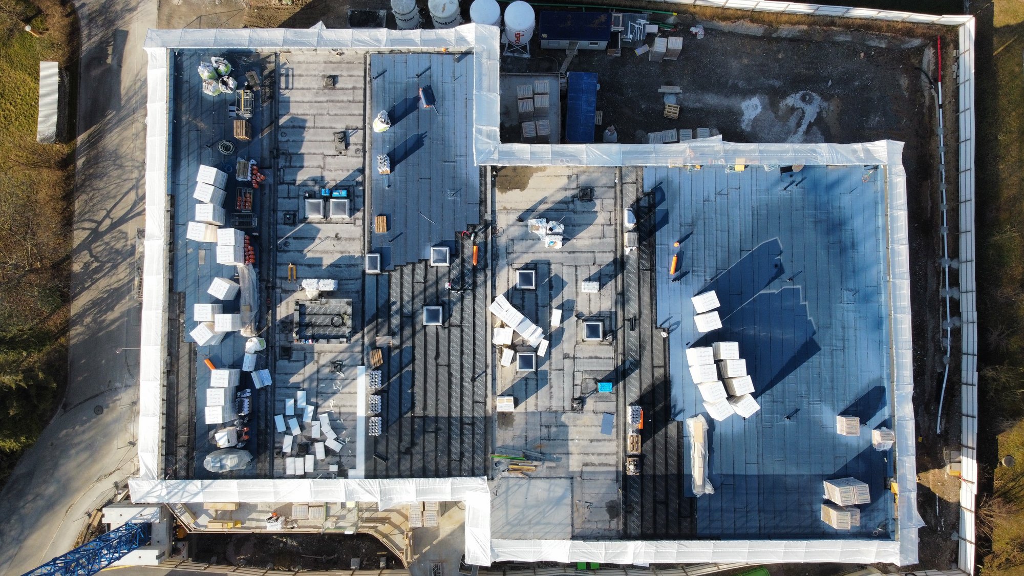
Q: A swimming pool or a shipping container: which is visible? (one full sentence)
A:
Looking from above, you can make out a shipping container.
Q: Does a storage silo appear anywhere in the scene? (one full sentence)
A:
Yes, I can see a storage silo in this picture.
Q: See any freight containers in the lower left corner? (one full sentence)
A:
No, there's no freight container to be seen in the lower left corner.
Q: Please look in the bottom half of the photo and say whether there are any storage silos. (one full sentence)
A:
No, no storage silo is visible in the bottom half of the photo.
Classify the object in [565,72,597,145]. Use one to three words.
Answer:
shipping container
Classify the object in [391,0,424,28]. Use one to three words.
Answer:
silo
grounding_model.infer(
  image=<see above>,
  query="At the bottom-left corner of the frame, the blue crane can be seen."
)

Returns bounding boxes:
[18,521,150,576]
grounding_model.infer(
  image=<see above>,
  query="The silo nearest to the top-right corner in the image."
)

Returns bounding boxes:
[499,2,537,58]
